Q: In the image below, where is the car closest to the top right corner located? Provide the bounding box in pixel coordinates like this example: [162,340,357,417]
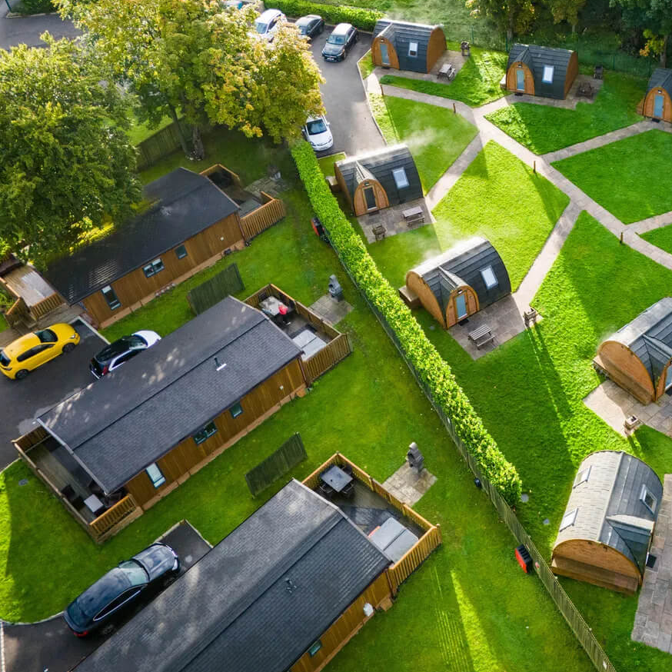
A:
[329,23,359,54]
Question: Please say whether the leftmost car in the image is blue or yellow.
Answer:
yellow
